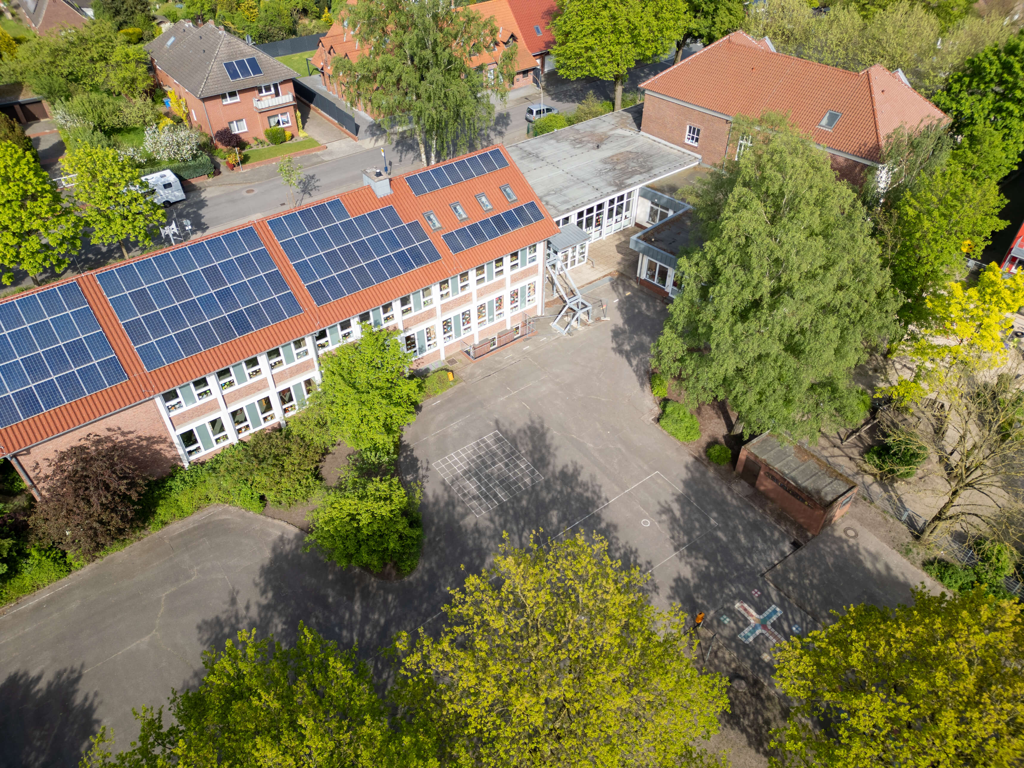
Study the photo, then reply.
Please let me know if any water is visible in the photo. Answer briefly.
No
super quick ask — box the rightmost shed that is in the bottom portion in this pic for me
[735,422,861,537]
